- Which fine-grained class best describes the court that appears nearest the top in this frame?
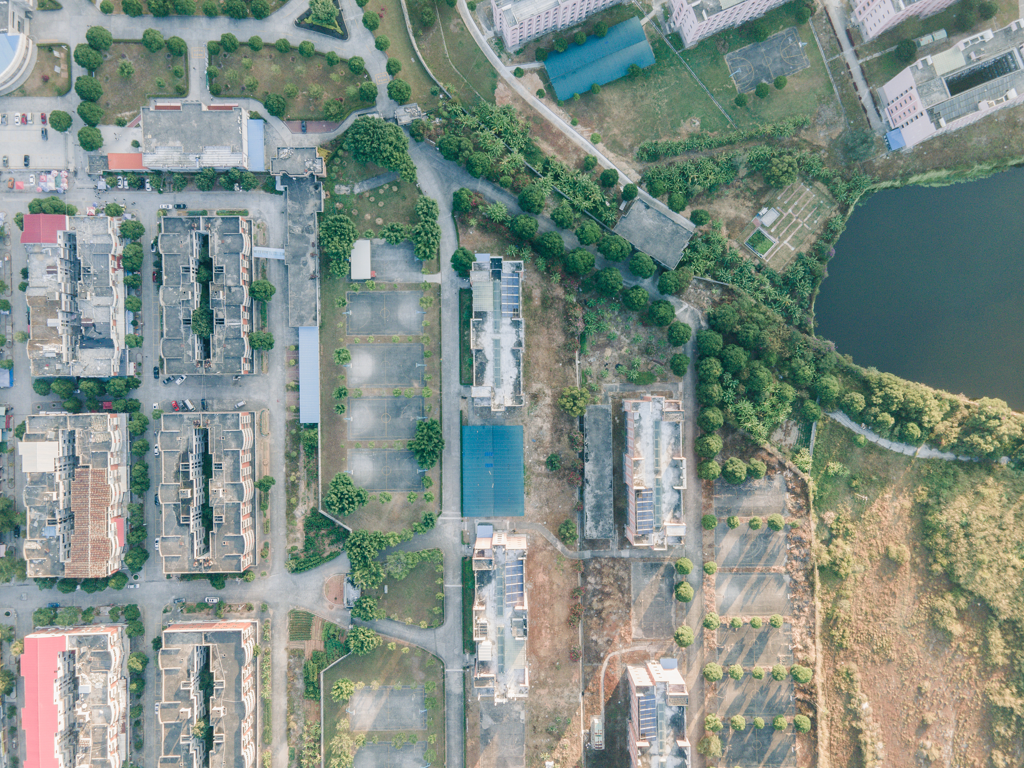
basketball court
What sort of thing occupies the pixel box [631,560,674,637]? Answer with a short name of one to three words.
sports court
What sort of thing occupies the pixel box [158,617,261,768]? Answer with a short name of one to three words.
building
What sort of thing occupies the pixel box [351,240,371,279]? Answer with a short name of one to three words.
shed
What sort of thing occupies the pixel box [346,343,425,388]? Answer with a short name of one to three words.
basketball court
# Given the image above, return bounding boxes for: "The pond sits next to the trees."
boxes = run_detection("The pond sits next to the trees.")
[816,169,1024,413]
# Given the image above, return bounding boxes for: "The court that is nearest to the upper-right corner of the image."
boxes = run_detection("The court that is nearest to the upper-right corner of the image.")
[724,27,810,93]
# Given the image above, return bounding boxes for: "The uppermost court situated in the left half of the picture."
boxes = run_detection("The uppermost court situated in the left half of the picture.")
[346,238,424,284]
